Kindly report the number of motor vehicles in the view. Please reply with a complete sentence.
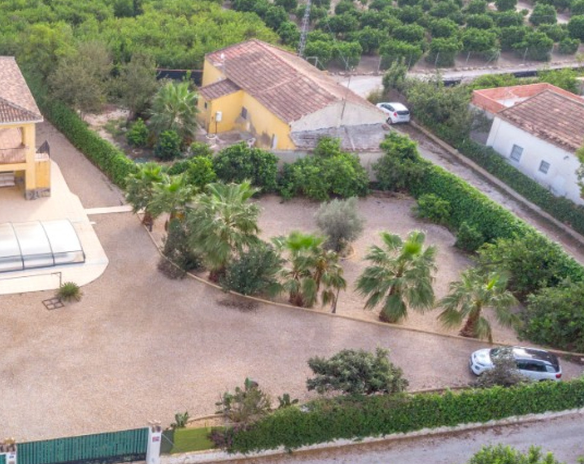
The number of motor vehicles here is 2.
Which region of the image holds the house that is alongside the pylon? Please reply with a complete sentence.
The house that is alongside the pylon is in the top part of the image.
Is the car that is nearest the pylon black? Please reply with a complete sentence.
No, from above the car that is nearest the pylon looks white.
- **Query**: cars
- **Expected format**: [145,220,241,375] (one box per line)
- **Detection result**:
[377,101,415,123]
[464,334,567,379]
